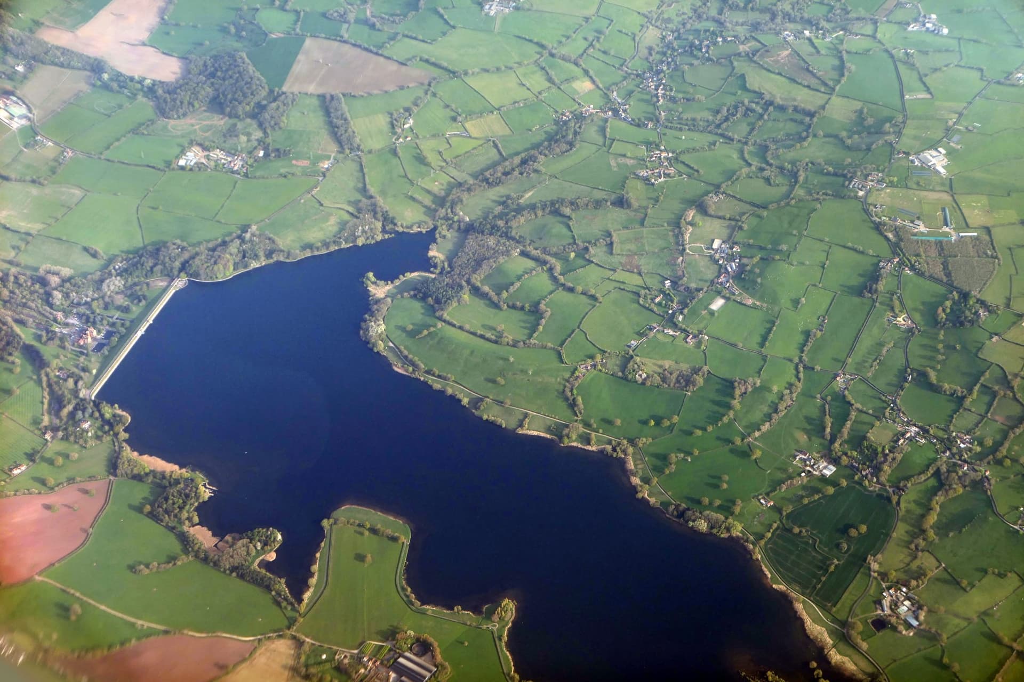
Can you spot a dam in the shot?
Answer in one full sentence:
Yes, the image includes a dam.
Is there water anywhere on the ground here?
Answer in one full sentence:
Yes, water shows up in the scene.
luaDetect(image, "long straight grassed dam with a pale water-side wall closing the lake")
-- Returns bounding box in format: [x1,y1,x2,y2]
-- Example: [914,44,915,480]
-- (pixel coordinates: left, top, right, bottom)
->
[82,287,177,398]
